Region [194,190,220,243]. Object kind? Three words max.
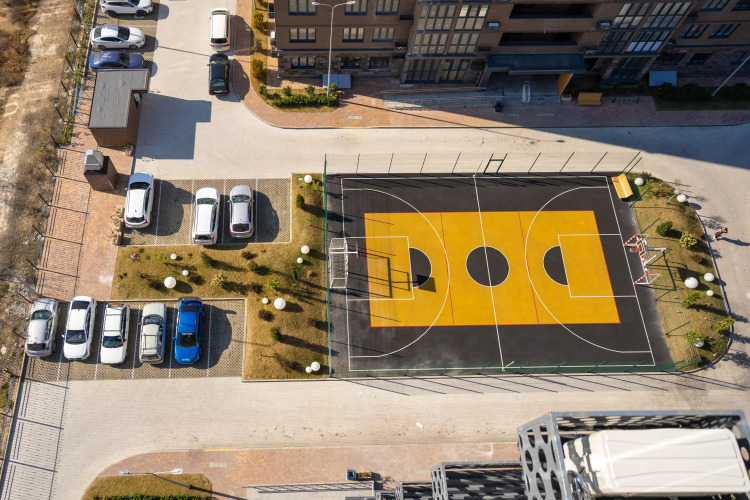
car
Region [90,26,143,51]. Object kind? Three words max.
car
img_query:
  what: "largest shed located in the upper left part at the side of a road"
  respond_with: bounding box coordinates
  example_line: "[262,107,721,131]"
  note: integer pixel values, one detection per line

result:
[87,68,150,146]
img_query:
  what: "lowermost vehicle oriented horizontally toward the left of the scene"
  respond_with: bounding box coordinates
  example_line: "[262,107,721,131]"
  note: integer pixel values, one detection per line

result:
[89,51,141,73]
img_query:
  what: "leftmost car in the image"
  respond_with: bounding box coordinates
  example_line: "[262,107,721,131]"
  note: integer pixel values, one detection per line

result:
[28,299,62,357]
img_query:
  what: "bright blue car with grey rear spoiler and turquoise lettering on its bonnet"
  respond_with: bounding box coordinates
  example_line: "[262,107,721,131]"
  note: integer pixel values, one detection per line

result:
[174,297,204,362]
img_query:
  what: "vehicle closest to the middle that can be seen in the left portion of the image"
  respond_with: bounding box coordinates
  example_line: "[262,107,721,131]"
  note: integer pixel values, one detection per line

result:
[229,188,255,238]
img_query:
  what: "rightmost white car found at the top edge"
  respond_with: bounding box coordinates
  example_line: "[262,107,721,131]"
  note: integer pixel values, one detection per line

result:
[209,12,231,53]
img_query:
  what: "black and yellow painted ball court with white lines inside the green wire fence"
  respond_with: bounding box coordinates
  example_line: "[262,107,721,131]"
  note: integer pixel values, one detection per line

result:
[325,171,676,378]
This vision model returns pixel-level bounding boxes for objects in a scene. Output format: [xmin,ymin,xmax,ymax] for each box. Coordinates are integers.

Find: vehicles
[207,56,230,97]
[127,177,155,229]
[209,12,231,53]
[229,188,255,238]
[64,296,99,359]
[90,26,143,51]
[140,304,168,361]
[89,51,141,73]
[28,299,62,357]
[101,305,135,362]
[100,0,150,18]
[194,190,220,243]
[174,297,204,362]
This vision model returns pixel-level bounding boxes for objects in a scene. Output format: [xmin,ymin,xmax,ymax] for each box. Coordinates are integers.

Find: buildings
[264,0,750,110]
[245,410,750,500]
[87,68,150,146]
